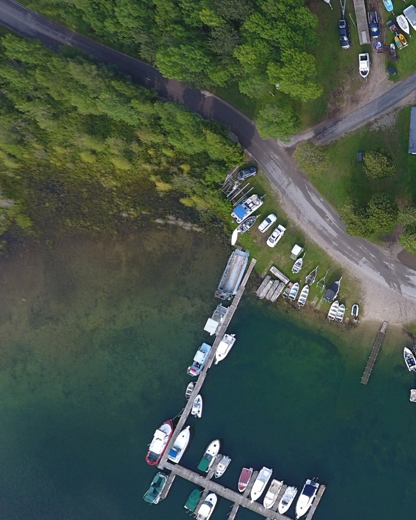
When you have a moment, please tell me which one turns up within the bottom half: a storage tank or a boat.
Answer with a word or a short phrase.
boat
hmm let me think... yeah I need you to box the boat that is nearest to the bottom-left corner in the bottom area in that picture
[142,471,169,504]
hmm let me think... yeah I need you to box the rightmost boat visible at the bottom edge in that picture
[297,476,322,519]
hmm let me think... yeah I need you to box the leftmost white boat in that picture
[145,422,174,464]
